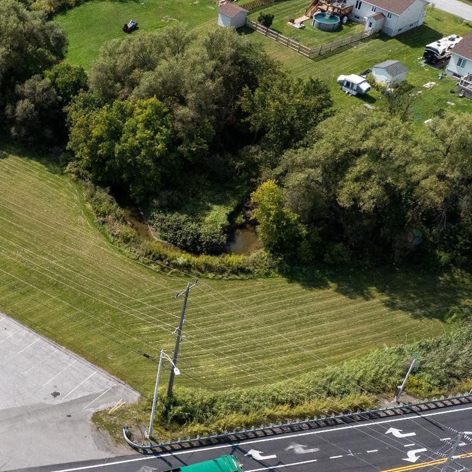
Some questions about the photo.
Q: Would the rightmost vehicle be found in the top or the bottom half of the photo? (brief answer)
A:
top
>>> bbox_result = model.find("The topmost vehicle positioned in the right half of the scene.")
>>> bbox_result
[424,34,462,70]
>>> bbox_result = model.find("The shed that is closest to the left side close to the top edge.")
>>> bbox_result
[218,3,248,26]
